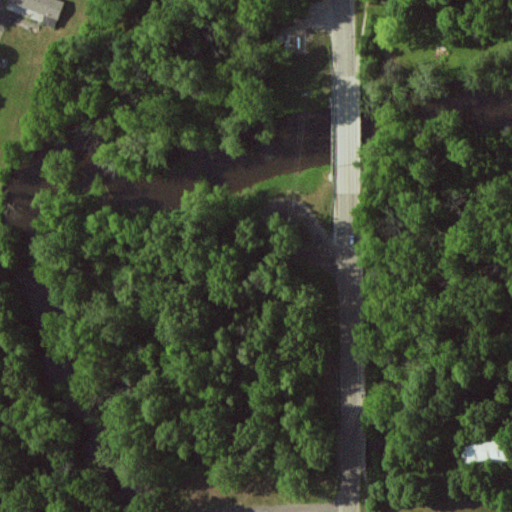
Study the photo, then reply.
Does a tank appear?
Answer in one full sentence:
No, no tank is visible in the scene.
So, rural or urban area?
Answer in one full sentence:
It looks rural.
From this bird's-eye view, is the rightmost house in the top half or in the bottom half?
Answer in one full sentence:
You can find the rightmost house in the bottom half.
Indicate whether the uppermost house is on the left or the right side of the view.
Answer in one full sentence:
The uppermost house is on the left side of the image.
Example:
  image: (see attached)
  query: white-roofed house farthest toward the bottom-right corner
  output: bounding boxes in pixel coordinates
[464,444,509,464]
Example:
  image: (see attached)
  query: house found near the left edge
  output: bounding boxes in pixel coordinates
[1,0,63,28]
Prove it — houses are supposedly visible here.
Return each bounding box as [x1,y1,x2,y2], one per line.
[1,0,63,28]
[464,444,509,464]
